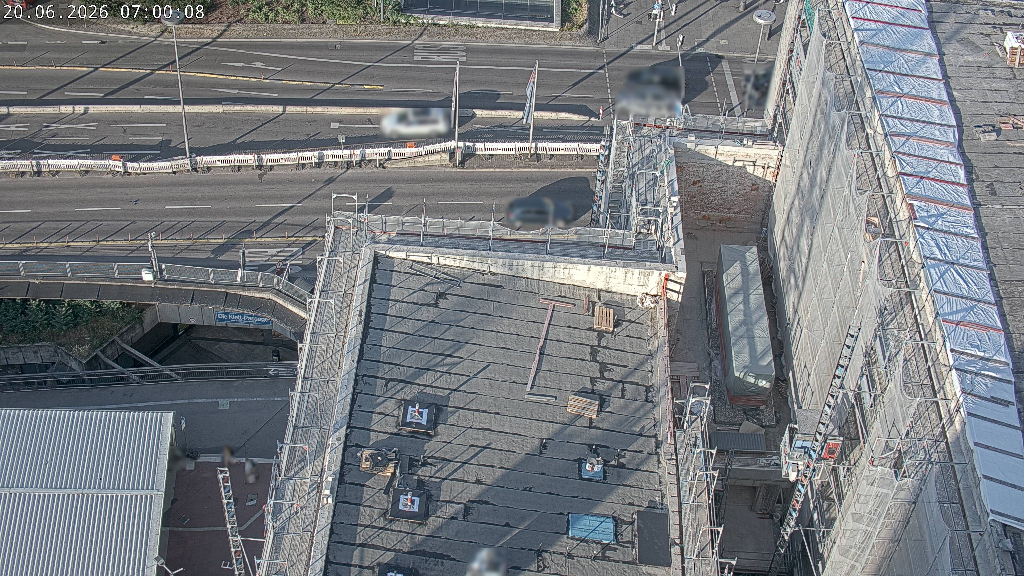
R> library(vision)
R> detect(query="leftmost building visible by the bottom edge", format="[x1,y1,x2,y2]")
[0,406,178,576]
